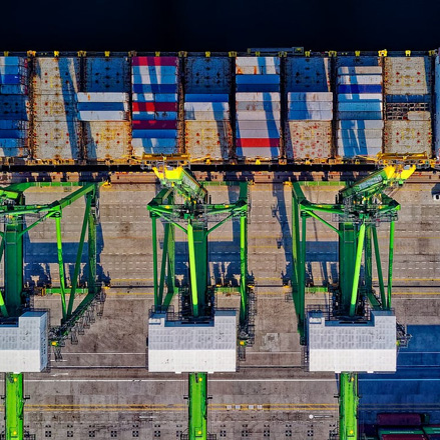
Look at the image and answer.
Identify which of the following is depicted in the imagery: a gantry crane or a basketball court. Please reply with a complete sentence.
Of the two, only a gantry crane appears.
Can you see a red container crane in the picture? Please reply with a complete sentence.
No, this view has no red container crane in it.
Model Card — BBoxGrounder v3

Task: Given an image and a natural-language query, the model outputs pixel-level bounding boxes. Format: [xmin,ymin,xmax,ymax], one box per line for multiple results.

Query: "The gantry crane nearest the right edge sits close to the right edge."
[284,152,439,440]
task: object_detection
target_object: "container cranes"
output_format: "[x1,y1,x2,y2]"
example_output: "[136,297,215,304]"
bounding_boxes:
[0,179,106,440]
[284,152,439,440]
[131,152,258,440]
